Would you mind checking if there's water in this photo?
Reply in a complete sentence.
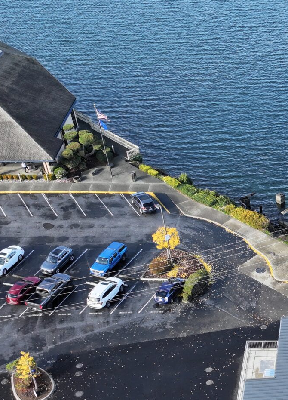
Yes, there is water in the image.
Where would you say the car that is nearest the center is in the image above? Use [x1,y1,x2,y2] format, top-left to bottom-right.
[128,188,157,214]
